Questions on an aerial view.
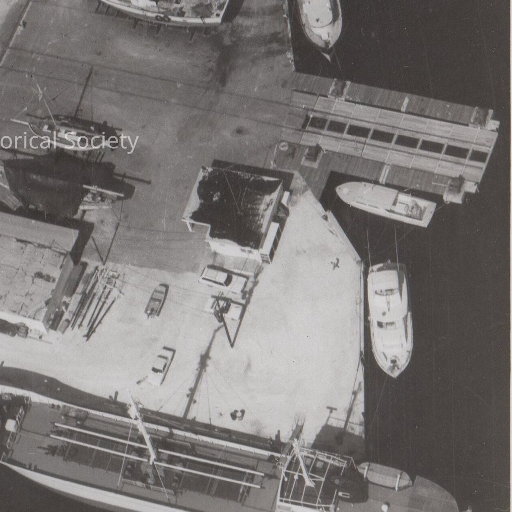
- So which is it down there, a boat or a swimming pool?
boat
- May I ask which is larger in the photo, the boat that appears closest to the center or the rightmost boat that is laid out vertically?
the rightmost boat that is laid out vertically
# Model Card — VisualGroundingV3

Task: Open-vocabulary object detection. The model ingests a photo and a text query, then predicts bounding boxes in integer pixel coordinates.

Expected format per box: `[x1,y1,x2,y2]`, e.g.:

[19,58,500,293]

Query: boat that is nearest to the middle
[144,284,169,319]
